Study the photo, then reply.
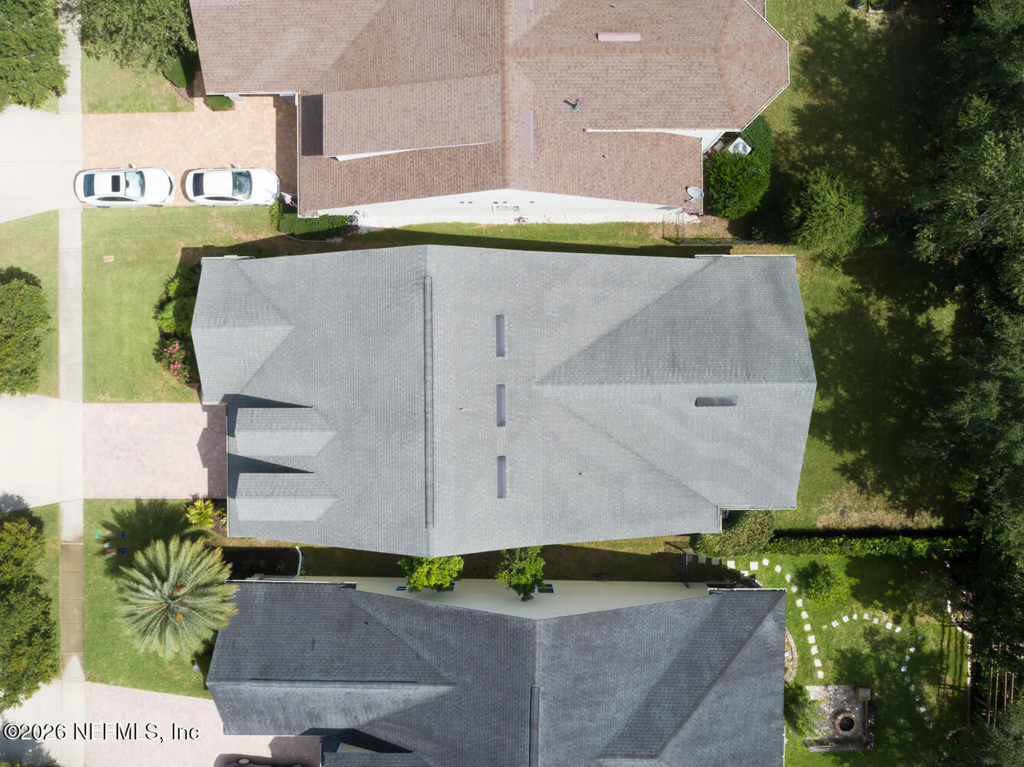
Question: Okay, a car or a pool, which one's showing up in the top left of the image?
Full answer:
It is a car that can be seen in the top left of the image.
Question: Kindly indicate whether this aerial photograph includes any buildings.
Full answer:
Yes, looking at the shot, I can spot a building.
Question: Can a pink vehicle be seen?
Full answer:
No, there isn't any pink vehicle down there.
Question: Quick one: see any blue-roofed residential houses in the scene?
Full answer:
No, this view has no blue-roofed residential house in it.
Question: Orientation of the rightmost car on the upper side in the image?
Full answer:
What the image shows is the rightmost car on the upper side lying horizontally.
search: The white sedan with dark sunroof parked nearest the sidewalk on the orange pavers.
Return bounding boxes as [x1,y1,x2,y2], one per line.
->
[76,167,177,208]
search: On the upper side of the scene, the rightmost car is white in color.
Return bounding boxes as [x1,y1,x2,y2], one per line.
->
[185,167,281,208]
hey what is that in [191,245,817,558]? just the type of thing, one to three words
house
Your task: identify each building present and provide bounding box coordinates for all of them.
[191,245,817,558]
[207,574,789,767]
[189,0,792,221]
